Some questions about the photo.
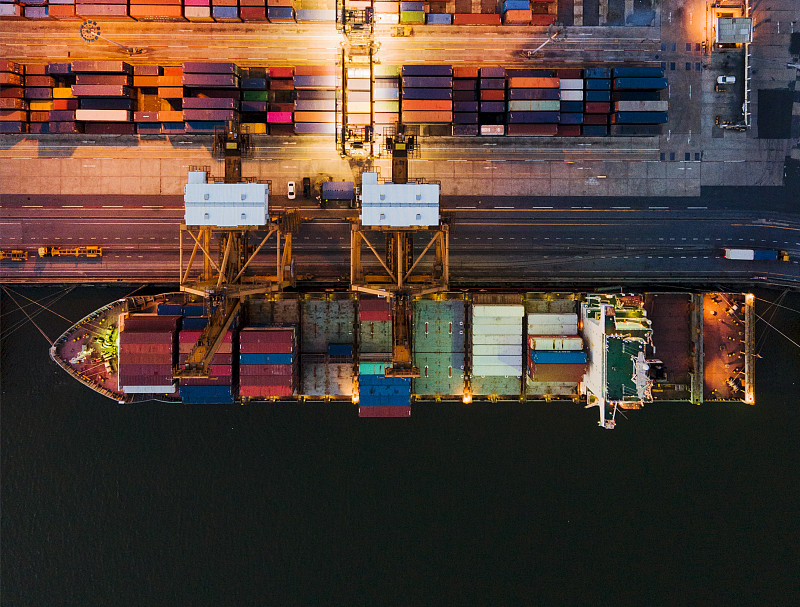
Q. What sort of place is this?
port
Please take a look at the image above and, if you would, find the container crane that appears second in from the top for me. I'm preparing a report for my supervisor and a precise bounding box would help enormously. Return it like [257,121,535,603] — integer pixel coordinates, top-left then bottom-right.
[336,41,387,162]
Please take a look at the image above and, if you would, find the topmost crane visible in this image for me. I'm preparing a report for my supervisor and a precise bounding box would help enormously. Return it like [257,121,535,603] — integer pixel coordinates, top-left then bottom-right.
[336,0,387,49]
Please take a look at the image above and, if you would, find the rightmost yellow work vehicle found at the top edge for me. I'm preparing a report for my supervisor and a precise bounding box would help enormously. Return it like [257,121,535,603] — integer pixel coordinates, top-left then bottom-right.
[385,26,412,38]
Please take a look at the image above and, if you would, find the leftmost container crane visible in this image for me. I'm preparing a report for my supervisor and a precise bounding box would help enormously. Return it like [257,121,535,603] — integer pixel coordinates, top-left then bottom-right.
[169,118,323,375]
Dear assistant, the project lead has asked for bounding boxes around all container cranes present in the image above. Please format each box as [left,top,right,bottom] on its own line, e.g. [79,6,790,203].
[336,0,387,49]
[336,41,387,162]
[169,118,323,375]
[333,119,463,374]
